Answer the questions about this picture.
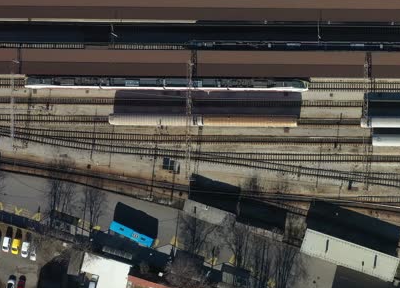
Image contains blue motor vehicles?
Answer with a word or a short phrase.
Yes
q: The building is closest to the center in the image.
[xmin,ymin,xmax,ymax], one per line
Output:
[182,199,230,226]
